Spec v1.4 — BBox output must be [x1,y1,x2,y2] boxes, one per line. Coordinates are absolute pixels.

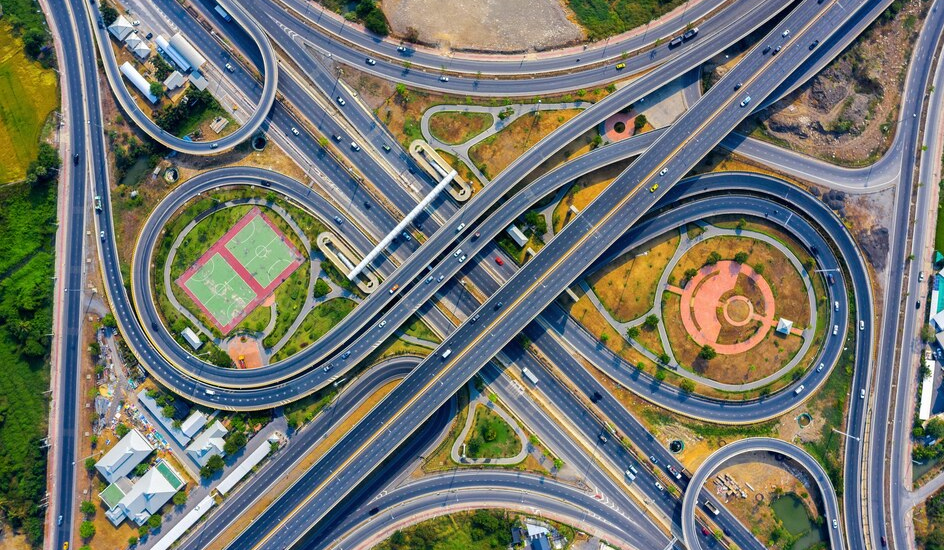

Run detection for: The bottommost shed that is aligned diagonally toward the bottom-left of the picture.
[153,494,218,550]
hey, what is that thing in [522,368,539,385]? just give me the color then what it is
white vehicle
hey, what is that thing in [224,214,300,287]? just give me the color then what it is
green sports court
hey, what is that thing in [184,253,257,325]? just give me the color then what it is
green sports court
